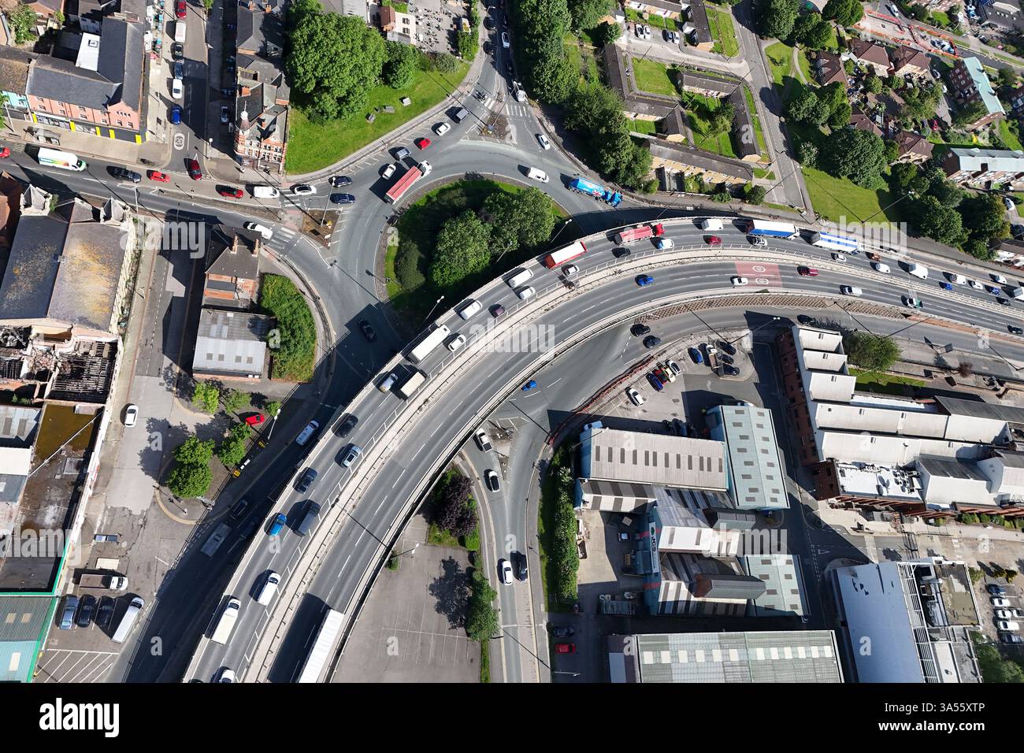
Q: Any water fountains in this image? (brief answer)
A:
No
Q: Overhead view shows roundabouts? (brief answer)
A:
Yes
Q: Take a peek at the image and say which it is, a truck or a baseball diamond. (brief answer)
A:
truck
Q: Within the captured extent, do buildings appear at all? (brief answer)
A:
Yes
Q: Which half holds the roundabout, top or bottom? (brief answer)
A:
top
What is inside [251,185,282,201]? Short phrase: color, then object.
white vehicle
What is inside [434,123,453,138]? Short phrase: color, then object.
white car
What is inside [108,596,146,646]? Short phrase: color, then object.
white van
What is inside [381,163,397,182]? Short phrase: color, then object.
white car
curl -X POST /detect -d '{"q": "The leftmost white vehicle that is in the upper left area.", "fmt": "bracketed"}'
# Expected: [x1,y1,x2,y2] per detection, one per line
[38,146,85,171]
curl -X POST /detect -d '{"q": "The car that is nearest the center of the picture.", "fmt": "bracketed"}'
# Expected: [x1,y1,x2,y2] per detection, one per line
[520,379,539,393]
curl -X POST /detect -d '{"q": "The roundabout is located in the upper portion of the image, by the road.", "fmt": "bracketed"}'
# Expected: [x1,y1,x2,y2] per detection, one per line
[373,173,586,352]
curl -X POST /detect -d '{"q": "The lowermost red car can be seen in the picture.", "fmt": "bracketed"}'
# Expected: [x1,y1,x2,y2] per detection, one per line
[554,642,575,654]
